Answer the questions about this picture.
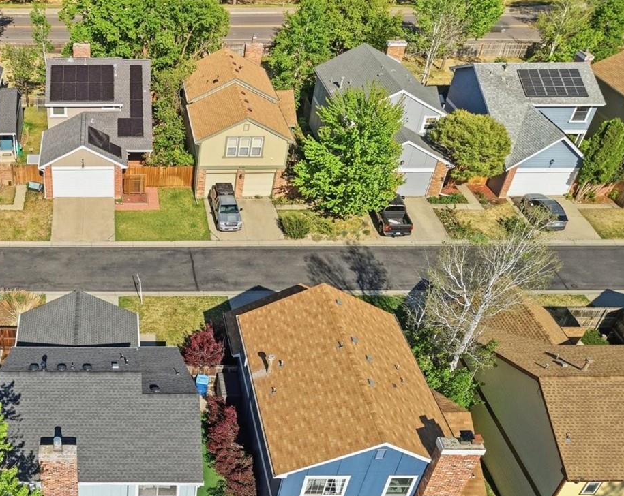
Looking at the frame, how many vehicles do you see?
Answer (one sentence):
The picture shows 3 vehicles.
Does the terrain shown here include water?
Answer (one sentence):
No, there is no water in the image.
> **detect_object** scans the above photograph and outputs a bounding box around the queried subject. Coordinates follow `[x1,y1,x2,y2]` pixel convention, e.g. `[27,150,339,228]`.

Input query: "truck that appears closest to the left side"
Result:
[212,184,244,227]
